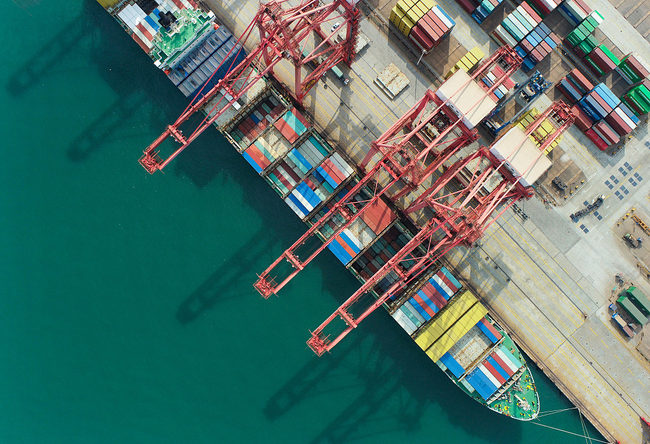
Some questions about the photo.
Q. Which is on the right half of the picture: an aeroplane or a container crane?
container crane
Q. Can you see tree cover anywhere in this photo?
No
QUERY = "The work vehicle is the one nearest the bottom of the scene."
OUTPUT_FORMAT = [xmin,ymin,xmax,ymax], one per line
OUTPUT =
[625,233,650,254]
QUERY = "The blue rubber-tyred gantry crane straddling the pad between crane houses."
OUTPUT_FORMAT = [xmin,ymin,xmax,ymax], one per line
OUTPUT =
[479,68,554,137]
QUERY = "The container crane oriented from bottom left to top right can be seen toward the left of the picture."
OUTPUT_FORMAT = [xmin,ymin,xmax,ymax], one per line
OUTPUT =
[131,0,363,179]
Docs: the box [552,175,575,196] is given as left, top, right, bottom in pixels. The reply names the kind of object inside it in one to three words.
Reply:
work vehicle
